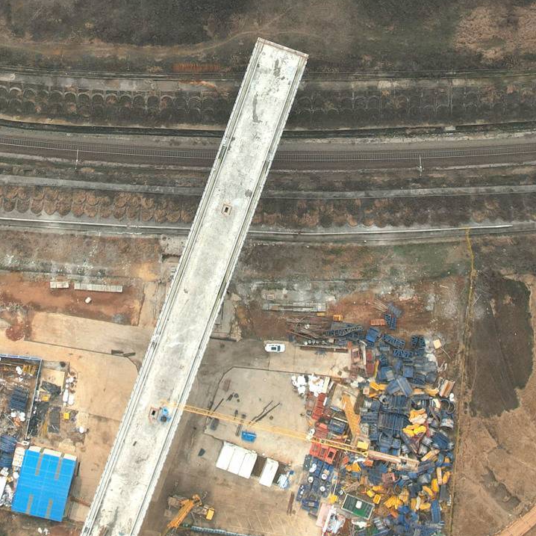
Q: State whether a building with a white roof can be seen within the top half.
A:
No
